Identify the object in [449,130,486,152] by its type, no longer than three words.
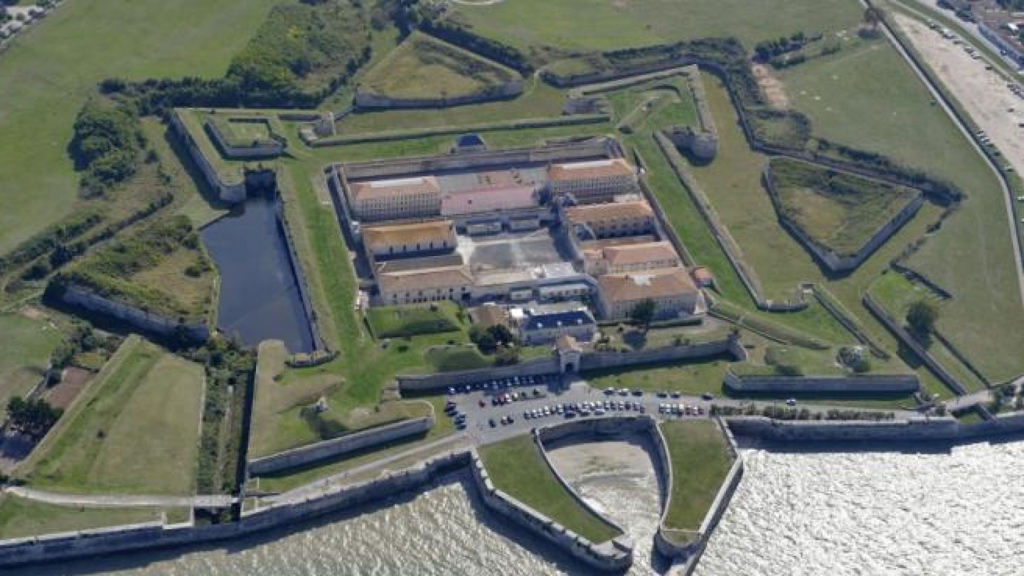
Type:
building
